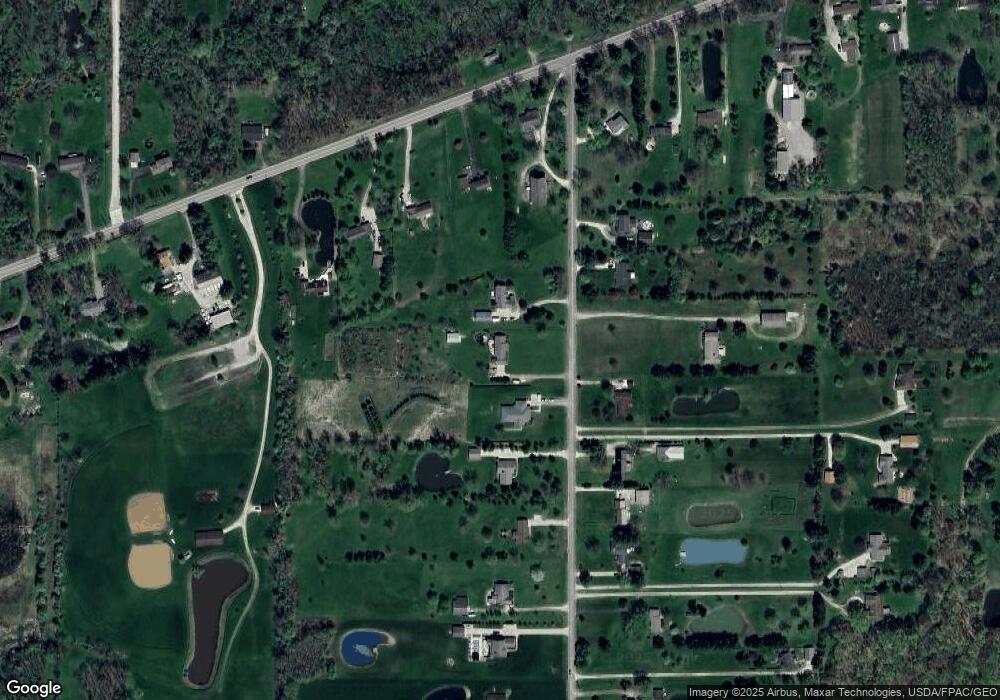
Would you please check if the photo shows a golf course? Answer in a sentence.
No, the scene contains no golf course.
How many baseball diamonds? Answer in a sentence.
My tally gives 2 baseball diamonds in this view.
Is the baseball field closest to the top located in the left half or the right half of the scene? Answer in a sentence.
The baseball field closest to the top sits on the left side.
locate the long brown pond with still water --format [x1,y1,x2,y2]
[187,558,249,686]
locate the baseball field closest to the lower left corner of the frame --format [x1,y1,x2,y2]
[70,540,178,639]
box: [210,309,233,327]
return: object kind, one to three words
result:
barn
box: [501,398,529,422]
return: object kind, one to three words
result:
house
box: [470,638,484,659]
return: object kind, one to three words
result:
swimming pool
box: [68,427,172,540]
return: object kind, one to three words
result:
baseball field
